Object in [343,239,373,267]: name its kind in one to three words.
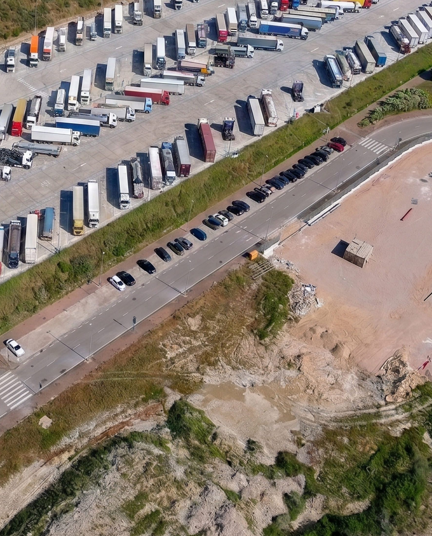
shed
